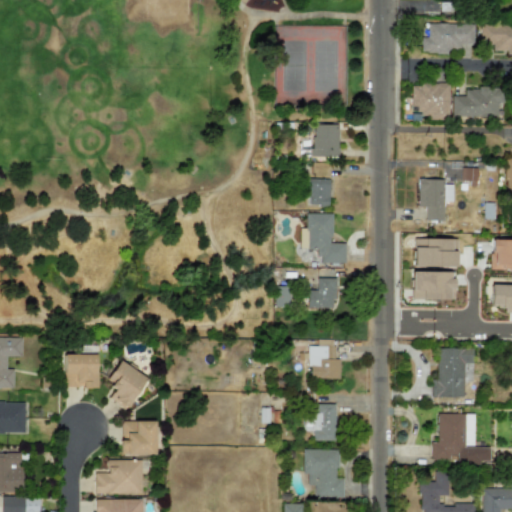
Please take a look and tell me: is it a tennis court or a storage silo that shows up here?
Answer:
tennis court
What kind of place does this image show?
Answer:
residential area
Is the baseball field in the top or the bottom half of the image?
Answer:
top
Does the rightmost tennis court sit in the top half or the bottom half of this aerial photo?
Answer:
top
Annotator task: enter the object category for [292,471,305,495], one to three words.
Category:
swimming pool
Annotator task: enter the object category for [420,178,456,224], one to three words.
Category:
house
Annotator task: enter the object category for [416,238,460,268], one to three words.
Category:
house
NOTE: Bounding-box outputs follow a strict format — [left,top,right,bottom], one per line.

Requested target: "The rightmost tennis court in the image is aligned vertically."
[310,26,347,107]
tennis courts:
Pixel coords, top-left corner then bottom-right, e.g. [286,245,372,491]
[276,26,310,107]
[310,26,347,107]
